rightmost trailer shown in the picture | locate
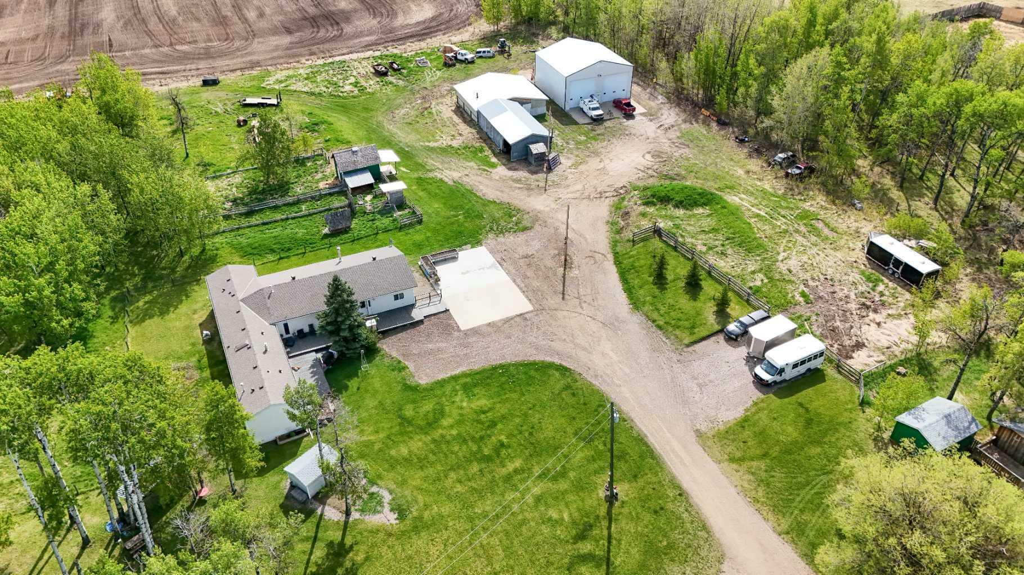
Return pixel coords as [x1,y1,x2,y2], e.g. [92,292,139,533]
[861,234,941,288]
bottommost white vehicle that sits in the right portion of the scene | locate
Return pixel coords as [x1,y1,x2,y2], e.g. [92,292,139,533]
[750,335,825,386]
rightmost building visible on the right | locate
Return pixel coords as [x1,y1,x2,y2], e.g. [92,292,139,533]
[973,406,1024,481]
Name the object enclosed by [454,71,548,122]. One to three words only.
barn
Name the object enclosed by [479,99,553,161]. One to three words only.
shed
